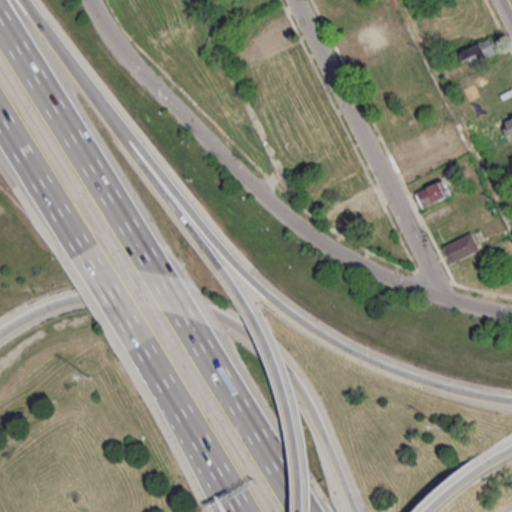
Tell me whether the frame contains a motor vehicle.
Yes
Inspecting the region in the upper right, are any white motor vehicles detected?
No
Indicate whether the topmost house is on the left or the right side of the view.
right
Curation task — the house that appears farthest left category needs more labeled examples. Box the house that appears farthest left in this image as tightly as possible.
[415,182,454,209]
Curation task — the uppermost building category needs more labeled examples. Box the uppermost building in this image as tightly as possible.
[460,34,498,67]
